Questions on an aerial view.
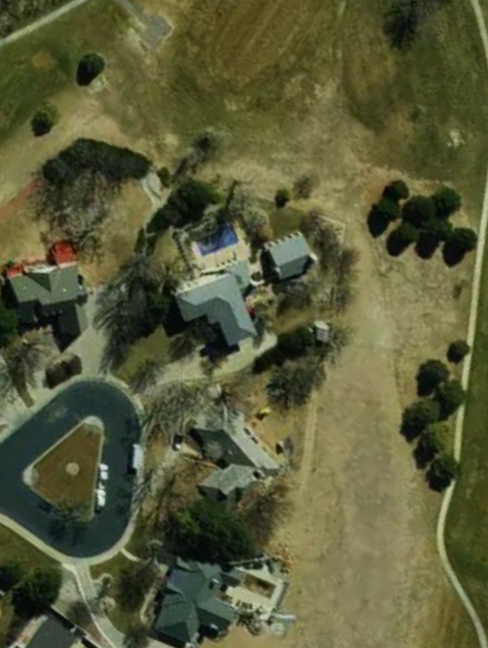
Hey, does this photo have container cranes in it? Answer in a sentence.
No, I find no container crane anywhere in the image.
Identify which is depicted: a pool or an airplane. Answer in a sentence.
It is a pool that can be seen here.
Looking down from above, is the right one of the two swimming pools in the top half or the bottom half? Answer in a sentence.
It is in the bottom half that the right one of the two swimming pools appears.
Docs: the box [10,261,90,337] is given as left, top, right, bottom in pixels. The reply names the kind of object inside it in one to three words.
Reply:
house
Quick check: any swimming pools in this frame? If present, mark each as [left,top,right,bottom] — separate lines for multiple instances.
[196,222,240,258]
[241,572,278,599]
